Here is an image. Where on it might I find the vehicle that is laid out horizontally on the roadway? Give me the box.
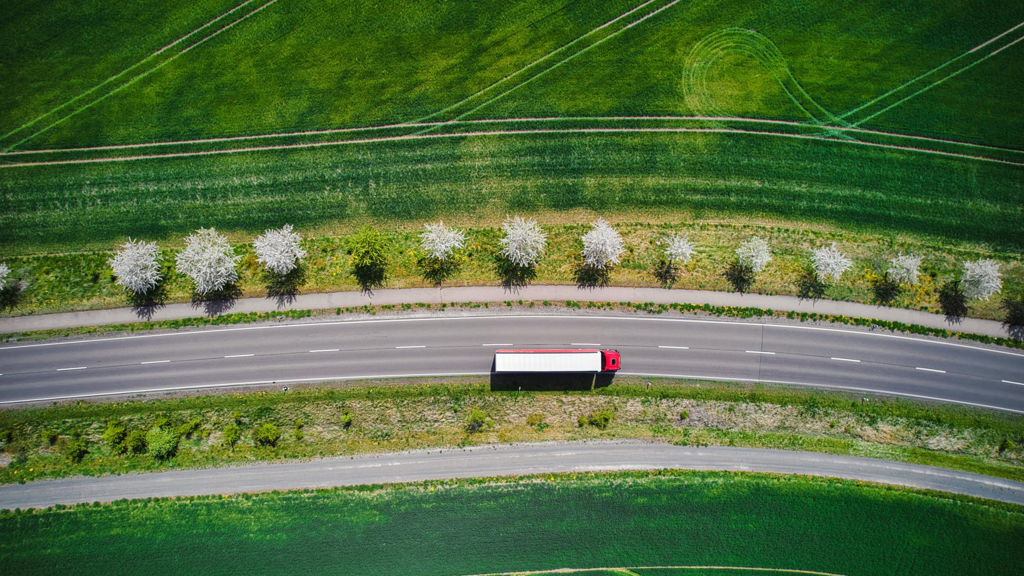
[496,348,621,372]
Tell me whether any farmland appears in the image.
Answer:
Yes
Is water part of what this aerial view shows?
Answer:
No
